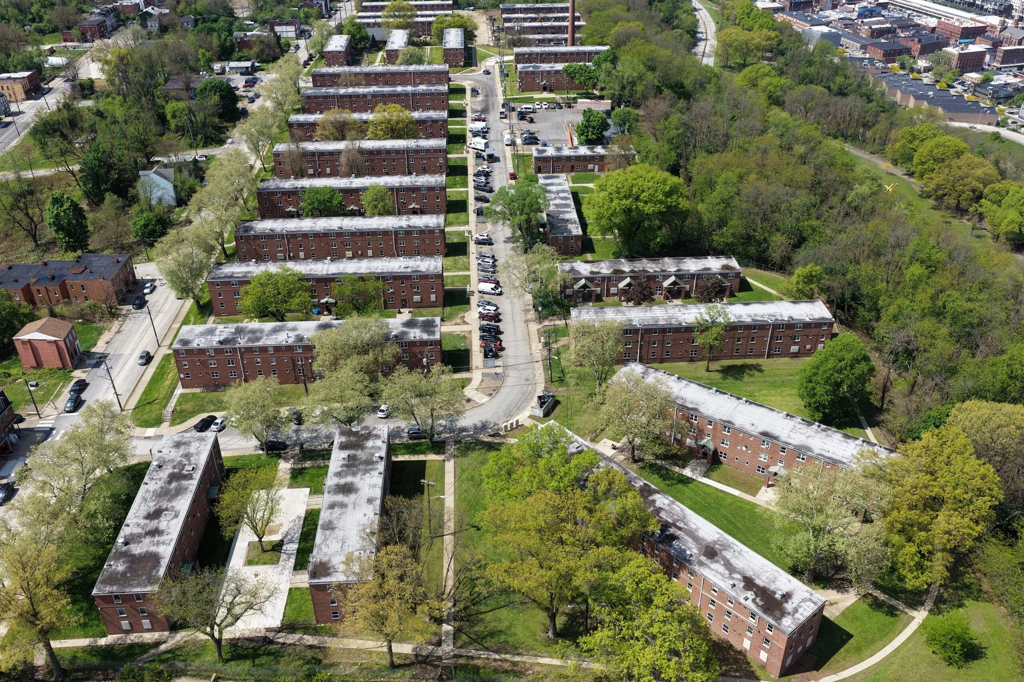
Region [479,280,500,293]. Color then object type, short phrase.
white vehicle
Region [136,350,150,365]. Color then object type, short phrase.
gray car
